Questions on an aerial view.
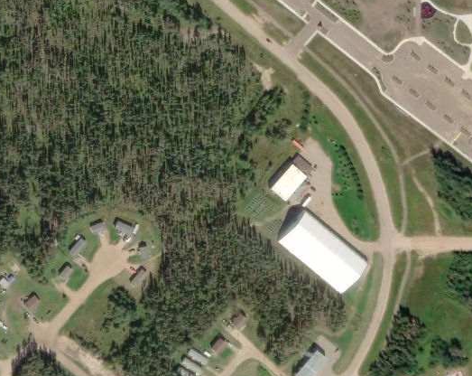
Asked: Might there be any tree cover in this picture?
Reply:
Yes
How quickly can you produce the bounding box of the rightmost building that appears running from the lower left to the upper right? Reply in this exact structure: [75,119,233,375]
[296,350,327,376]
